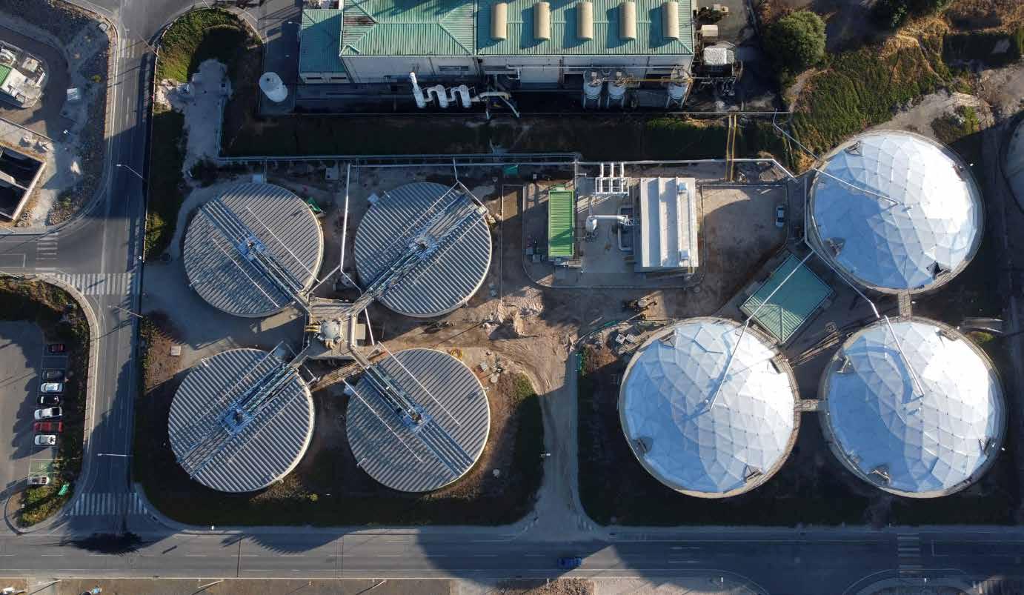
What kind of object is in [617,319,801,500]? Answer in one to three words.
storage tank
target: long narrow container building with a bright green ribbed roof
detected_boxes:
[548,186,574,268]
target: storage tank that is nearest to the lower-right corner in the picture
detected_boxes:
[812,318,1007,500]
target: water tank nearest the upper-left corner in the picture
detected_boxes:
[261,70,289,101]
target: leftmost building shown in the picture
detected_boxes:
[0,36,45,108]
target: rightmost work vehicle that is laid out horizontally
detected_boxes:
[618,296,660,310]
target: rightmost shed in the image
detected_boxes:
[739,254,833,343]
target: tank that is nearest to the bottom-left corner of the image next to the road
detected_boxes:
[168,344,318,495]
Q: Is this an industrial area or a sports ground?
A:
industrial area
